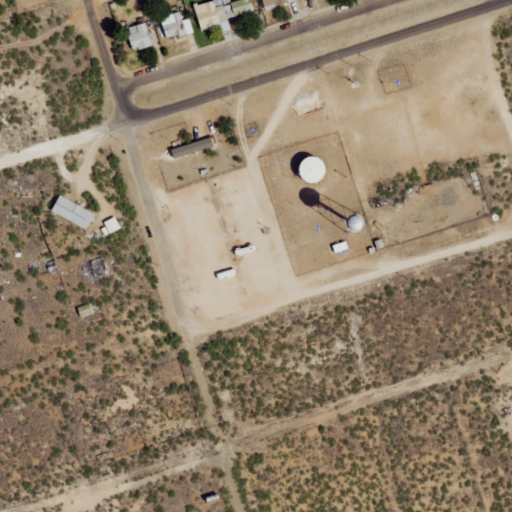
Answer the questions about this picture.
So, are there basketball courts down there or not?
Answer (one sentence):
No, I find no basketball court anywhere in the image.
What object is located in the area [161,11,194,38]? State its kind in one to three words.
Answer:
house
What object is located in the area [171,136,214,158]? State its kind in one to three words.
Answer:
house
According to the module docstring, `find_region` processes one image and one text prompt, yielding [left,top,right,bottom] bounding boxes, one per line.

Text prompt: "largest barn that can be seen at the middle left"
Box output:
[50,194,94,230]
